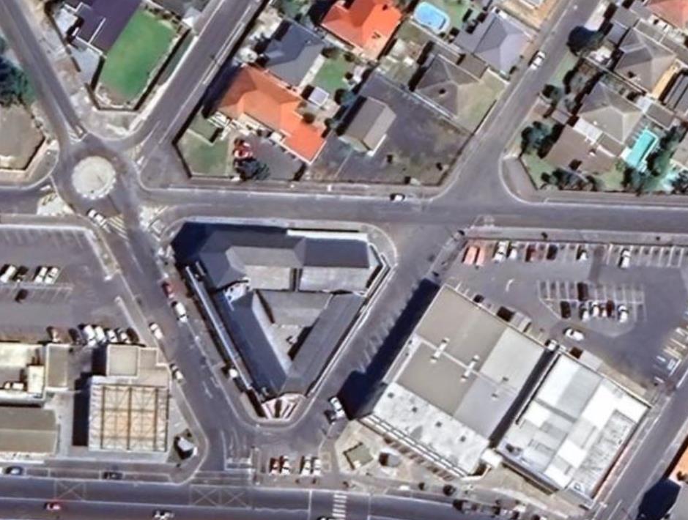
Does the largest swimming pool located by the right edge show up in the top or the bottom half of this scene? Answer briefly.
top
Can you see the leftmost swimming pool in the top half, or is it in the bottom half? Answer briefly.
top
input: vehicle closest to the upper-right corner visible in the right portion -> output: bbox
[530,49,548,72]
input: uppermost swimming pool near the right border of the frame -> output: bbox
[626,131,658,168]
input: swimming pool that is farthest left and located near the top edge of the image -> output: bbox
[413,1,449,33]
